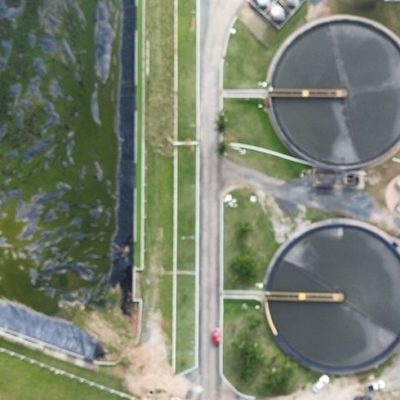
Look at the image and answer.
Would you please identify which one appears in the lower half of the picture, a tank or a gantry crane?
tank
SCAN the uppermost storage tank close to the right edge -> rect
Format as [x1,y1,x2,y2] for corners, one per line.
[263,12,400,169]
